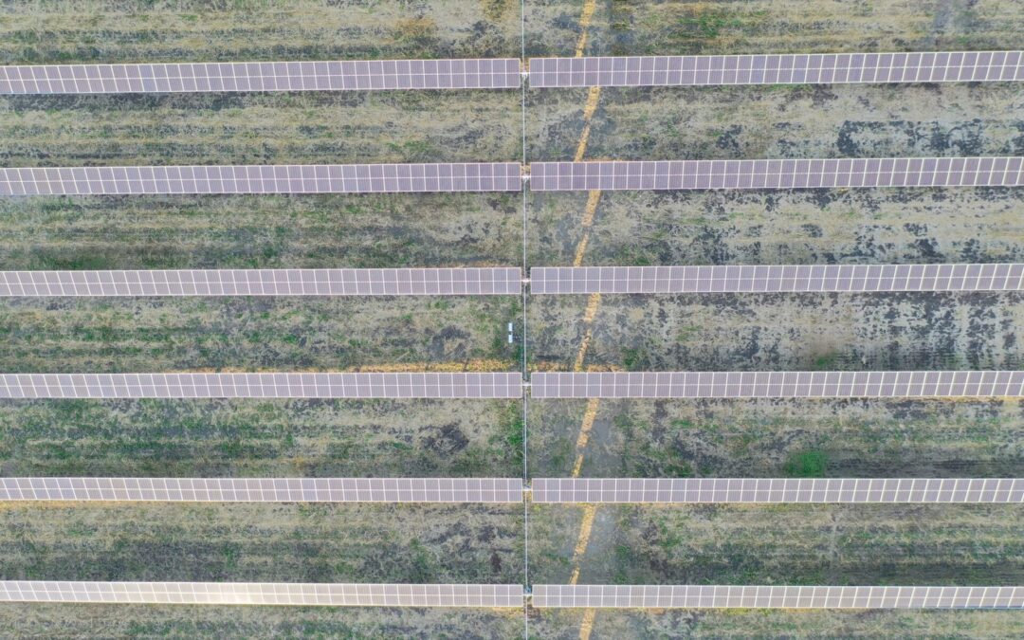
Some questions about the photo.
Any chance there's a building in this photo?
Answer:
No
